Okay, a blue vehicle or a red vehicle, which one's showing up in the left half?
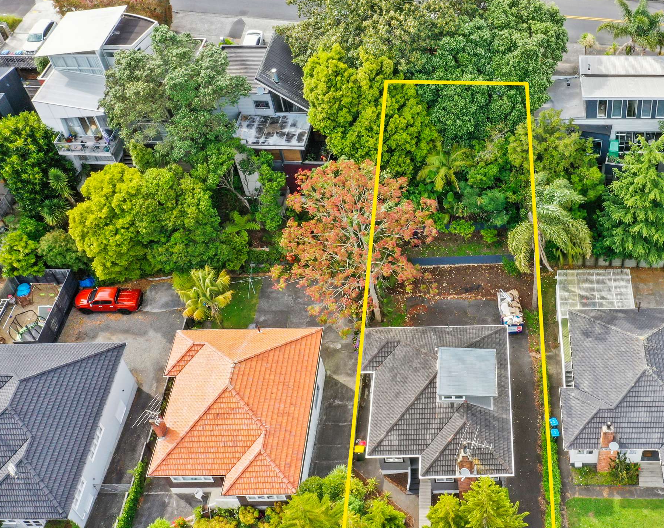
red vehicle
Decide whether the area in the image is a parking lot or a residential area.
residential area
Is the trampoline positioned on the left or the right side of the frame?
left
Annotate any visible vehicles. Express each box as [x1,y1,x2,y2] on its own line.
[71,283,149,314]
[239,28,266,46]
[18,17,60,54]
